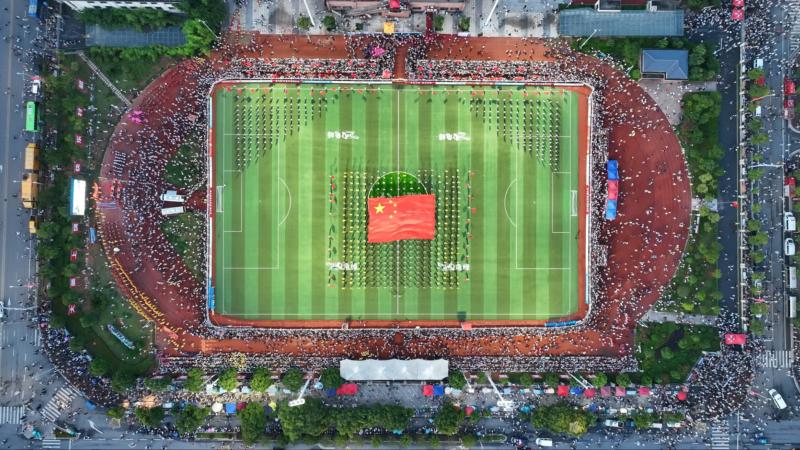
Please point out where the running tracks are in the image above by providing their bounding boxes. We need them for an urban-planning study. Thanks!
[94,38,693,355]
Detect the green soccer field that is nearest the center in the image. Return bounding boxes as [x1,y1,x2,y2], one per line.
[210,81,591,327]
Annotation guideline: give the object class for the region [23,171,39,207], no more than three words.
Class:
vehicle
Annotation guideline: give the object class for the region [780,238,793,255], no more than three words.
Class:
vehicle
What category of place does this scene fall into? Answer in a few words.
sports ground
